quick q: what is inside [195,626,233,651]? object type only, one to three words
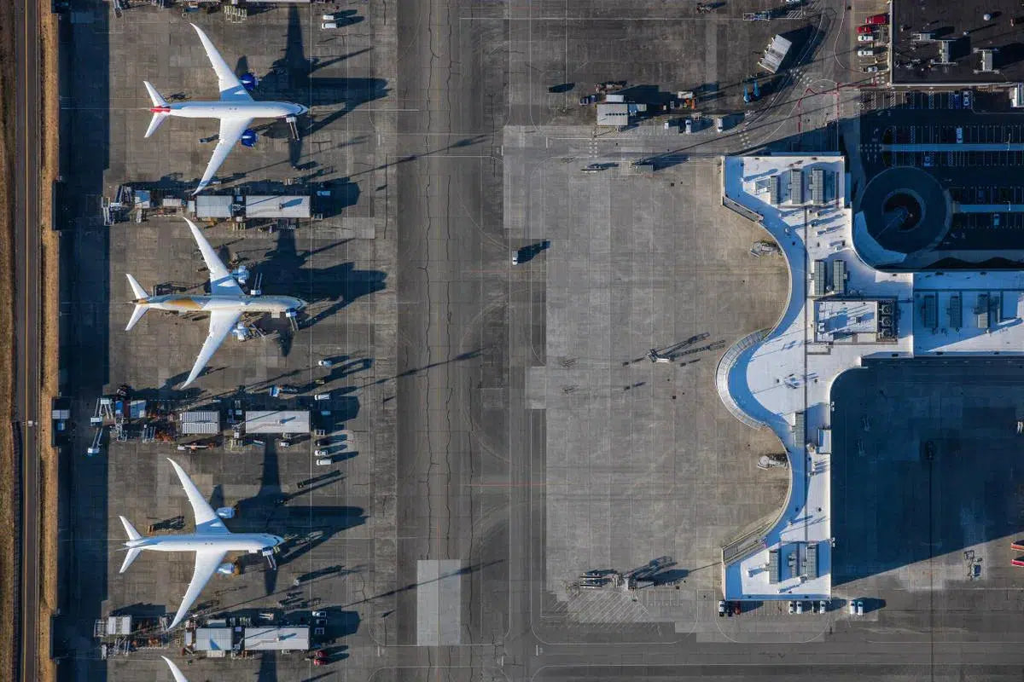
shed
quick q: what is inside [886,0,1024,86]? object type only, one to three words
building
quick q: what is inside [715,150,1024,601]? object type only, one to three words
building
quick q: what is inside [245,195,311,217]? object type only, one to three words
shed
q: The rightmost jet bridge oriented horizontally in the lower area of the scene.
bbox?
[756,455,789,469]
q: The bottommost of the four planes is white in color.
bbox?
[161,658,186,682]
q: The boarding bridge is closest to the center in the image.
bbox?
[644,351,677,363]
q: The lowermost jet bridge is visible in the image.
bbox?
[611,574,637,592]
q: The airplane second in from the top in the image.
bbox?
[121,218,309,391]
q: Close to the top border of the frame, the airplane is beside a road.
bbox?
[139,23,308,196]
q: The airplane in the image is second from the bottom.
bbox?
[116,458,285,631]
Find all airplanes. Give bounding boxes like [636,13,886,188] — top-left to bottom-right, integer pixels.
[121,218,309,391]
[139,23,308,196]
[161,658,186,682]
[116,458,285,631]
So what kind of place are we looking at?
airport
